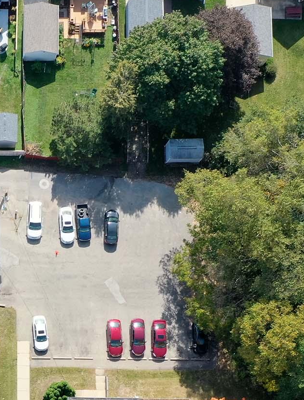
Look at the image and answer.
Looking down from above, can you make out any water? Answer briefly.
No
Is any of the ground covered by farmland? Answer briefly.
No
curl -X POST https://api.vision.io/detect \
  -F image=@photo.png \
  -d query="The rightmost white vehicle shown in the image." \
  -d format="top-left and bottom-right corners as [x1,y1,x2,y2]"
[58,207,76,245]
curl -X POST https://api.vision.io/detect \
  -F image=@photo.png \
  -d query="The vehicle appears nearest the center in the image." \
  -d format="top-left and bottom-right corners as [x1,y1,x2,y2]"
[102,208,120,246]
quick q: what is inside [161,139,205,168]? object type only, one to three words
shed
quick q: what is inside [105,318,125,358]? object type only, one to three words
car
